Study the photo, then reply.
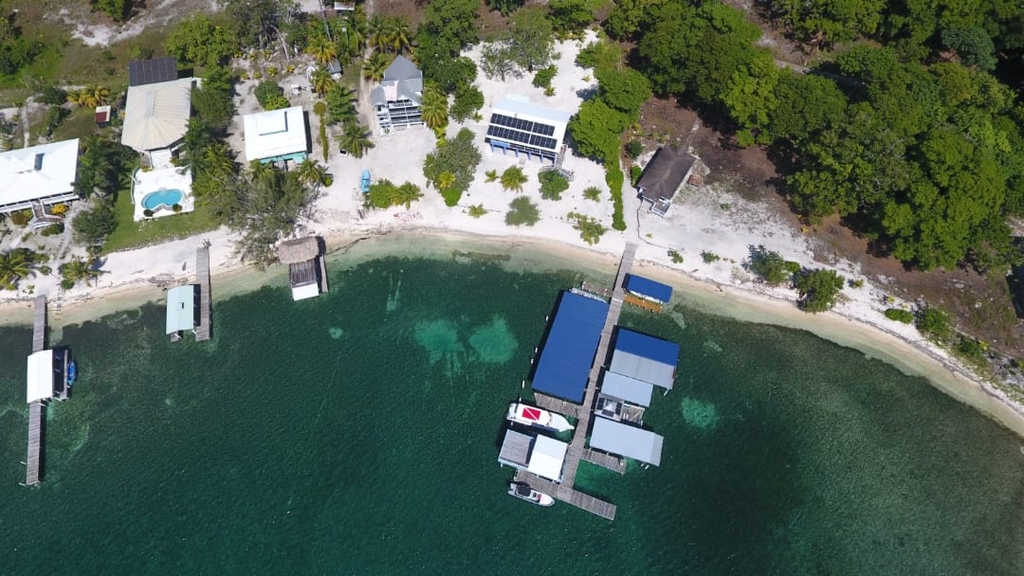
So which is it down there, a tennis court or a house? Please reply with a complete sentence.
Looking from above, you can make out a house.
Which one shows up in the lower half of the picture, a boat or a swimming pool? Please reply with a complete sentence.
It is a boat that can be seen in the lower half of the picture.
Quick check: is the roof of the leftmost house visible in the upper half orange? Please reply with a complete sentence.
No, the roof of the leftmost house visible in the upper half is white.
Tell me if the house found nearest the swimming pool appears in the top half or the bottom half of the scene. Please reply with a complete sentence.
Seen from above, the house found nearest the swimming pool lies in the top half of the view.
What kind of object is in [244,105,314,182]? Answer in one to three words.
house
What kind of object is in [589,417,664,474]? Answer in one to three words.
building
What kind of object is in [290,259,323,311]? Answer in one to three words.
building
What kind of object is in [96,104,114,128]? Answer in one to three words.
shed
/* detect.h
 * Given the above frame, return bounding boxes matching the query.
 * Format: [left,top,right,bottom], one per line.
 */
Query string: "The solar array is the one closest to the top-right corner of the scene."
[490,111,552,146]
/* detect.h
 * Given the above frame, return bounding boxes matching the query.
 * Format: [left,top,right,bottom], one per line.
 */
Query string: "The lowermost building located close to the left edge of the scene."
[27,350,77,413]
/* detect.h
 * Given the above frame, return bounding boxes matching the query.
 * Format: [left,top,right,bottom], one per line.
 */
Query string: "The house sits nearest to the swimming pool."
[122,57,204,170]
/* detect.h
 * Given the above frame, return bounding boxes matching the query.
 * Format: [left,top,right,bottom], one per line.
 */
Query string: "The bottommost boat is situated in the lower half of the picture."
[506,482,554,504]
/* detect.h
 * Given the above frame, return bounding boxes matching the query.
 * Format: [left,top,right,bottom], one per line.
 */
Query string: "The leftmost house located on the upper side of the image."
[0,139,86,235]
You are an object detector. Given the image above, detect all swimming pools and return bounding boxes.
[129,165,197,224]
